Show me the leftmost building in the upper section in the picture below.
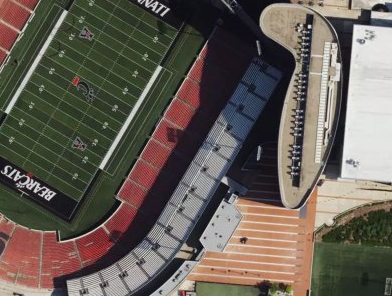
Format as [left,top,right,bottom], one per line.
[259,4,343,209]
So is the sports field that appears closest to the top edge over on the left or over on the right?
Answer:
left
